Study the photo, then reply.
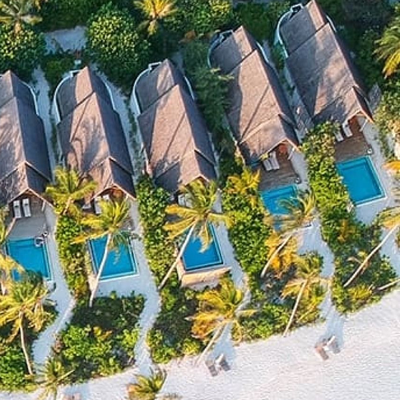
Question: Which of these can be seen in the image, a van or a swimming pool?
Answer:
swimming pool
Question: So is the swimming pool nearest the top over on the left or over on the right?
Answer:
right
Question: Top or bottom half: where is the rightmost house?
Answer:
top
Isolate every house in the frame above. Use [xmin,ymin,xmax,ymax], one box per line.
[212,27,320,225]
[0,69,62,284]
[48,67,149,276]
[127,58,235,265]
[272,0,395,198]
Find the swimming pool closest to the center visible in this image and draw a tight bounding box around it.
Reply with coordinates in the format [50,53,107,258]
[171,220,232,280]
